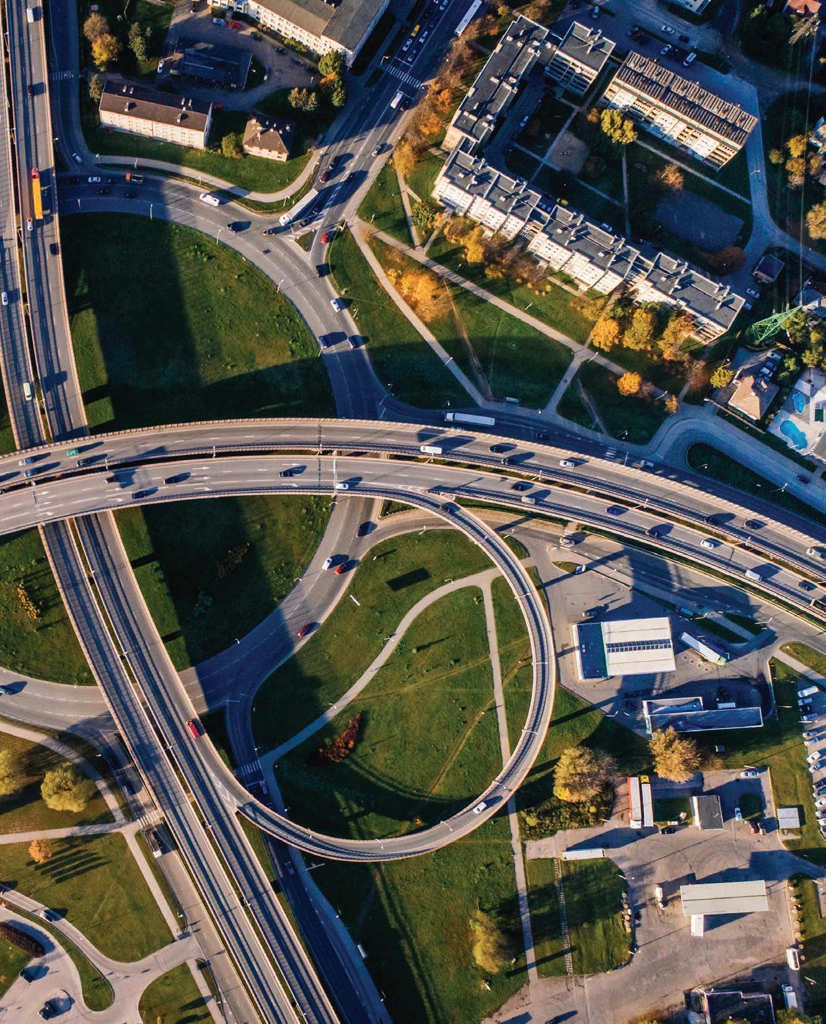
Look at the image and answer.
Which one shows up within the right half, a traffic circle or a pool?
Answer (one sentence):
The one visible within the right half is a pool.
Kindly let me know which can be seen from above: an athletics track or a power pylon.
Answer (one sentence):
The image shows a power pylon.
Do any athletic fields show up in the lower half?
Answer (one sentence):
No, no athletic field appears in the lower half.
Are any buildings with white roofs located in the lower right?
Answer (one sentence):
Yes, a building with a white roof shows up in the lower right.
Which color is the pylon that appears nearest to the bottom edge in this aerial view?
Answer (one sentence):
The pylon that appears nearest to the bottom edge looks green in the image.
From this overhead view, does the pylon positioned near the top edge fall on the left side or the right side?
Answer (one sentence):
It is on the right.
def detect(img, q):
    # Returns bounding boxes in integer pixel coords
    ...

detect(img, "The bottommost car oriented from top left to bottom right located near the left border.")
[19,969,34,985]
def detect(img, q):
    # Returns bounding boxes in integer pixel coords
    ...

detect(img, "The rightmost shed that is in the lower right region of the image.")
[775,807,801,829]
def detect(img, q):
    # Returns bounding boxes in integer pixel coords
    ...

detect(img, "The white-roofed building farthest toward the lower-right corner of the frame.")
[687,914,704,937]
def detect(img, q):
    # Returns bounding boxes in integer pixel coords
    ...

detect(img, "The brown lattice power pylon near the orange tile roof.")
[779,17,819,63]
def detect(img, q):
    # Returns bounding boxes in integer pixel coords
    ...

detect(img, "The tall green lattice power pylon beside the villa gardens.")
[754,305,806,340]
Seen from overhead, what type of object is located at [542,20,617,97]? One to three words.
building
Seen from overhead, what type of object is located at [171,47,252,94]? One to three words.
shed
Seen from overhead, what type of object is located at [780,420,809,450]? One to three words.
swimming pool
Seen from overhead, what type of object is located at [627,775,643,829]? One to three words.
vehicle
